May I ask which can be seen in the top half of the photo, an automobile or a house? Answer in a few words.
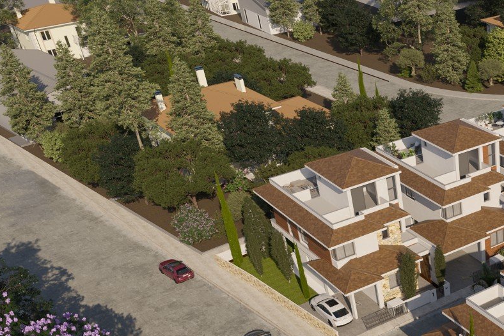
house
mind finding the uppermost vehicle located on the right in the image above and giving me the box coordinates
[312,295,354,325]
